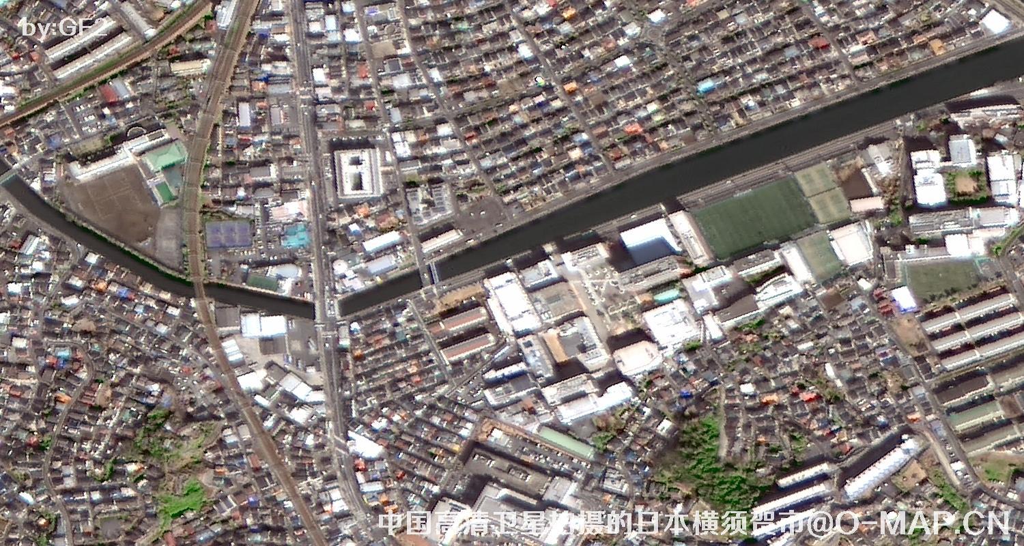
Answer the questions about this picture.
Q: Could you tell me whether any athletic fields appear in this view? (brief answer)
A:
Yes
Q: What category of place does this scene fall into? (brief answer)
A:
residential area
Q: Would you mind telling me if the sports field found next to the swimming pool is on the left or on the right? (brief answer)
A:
left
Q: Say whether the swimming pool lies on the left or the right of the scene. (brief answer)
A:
left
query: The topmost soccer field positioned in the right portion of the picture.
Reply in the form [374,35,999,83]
[692,176,818,259]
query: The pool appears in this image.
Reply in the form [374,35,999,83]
[154,179,175,205]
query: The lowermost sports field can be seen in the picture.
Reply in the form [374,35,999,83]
[903,256,981,302]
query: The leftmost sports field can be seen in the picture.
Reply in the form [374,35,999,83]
[63,164,160,244]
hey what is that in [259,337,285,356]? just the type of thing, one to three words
shed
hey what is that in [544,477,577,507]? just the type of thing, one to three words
building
